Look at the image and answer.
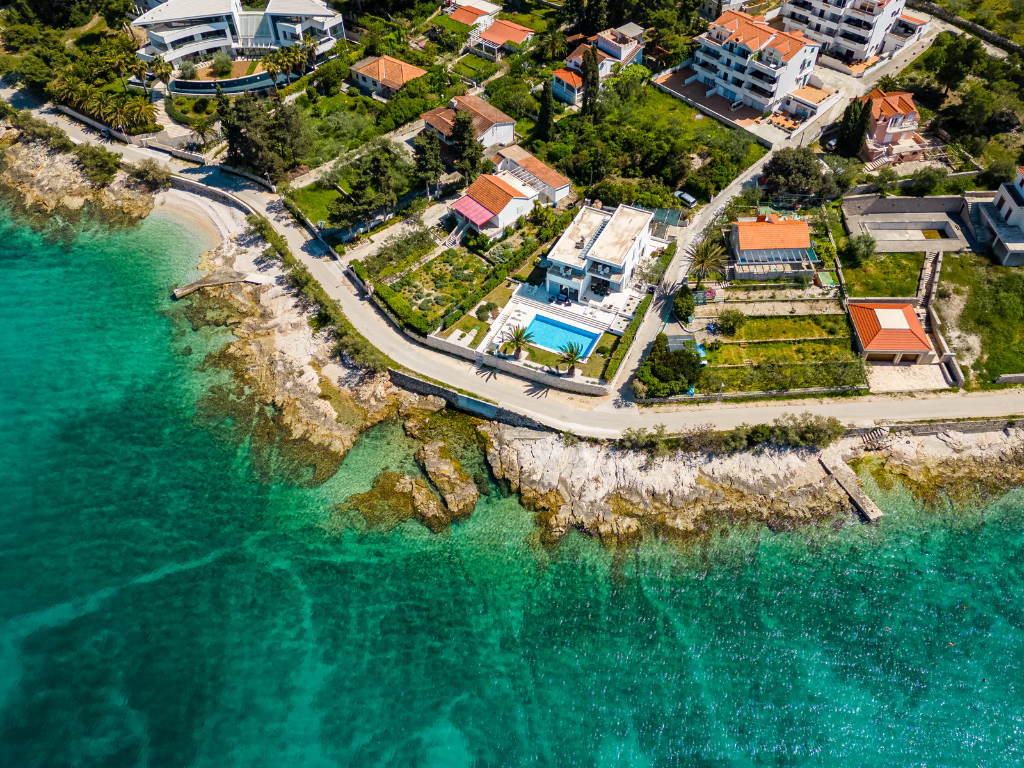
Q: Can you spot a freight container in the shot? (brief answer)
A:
No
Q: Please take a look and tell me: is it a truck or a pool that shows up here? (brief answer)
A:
pool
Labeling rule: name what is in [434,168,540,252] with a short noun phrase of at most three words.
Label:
house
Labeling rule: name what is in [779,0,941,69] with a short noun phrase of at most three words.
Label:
building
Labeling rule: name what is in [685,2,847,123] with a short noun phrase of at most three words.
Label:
building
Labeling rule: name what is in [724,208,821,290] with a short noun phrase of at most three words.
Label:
house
